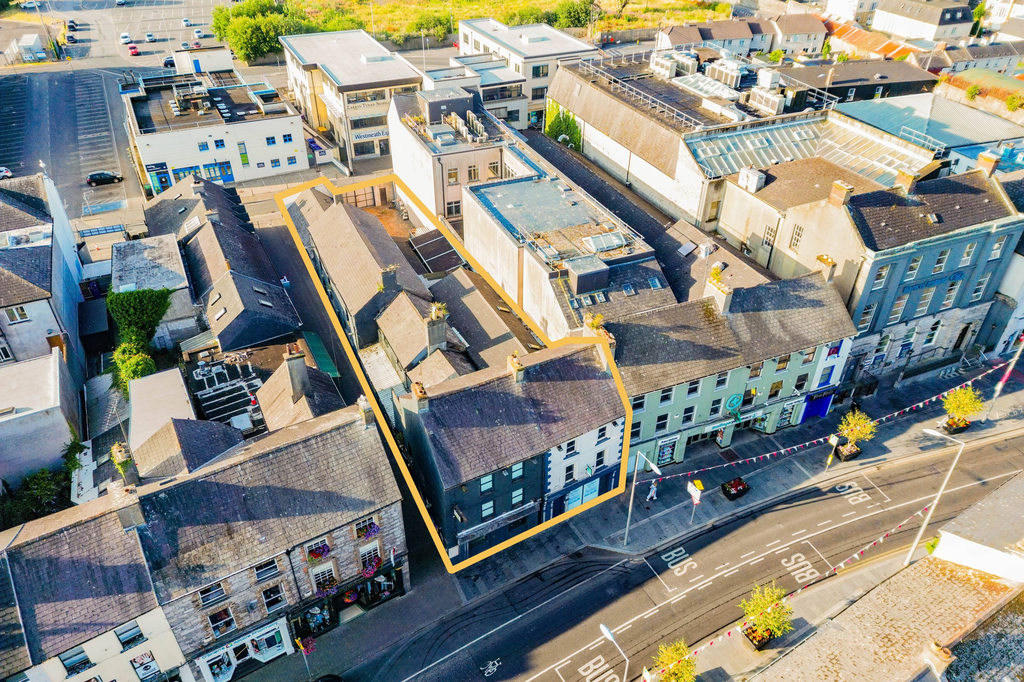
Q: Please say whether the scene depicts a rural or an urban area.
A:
urban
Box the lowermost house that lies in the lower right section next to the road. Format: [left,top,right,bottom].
[738,536,1024,682]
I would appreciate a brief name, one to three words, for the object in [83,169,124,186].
car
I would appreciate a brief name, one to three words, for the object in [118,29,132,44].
car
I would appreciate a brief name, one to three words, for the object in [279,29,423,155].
building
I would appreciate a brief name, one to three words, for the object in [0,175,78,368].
house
